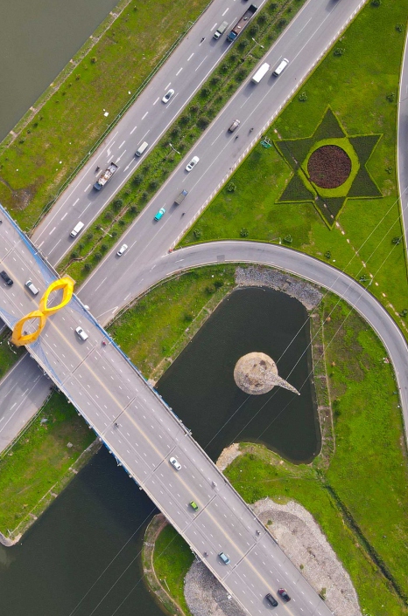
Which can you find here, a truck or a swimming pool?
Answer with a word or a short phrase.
truck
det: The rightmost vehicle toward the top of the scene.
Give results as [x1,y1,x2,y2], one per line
[273,57,290,77]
